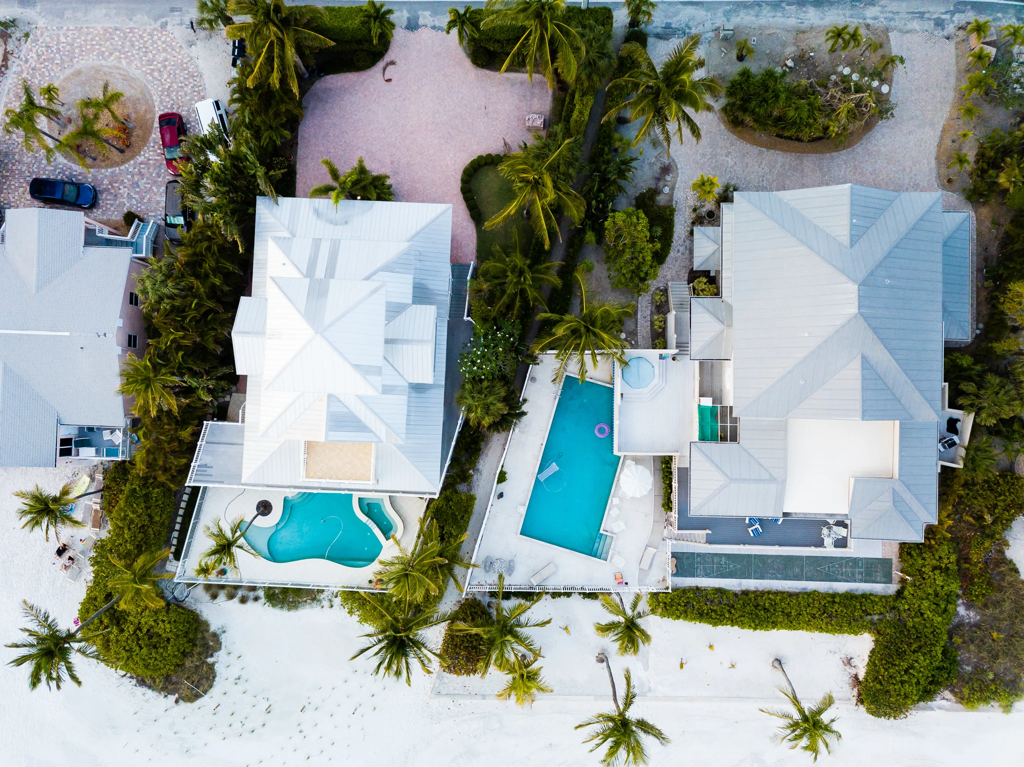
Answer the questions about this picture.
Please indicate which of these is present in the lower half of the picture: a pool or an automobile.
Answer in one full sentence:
There is a pool in the lower half of the picture.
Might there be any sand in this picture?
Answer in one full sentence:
Yes, sand shows up in the scene.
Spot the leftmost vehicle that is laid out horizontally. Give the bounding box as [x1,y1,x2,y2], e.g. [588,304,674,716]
[31,178,98,209]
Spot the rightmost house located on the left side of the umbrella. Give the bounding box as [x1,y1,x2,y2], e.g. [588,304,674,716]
[181,195,475,498]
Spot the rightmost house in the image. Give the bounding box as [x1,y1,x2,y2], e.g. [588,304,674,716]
[612,183,976,552]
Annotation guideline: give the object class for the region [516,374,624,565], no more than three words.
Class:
swimming pool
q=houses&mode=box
[0,208,167,467]
[181,195,475,498]
[612,183,976,552]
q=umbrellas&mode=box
[620,463,650,493]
